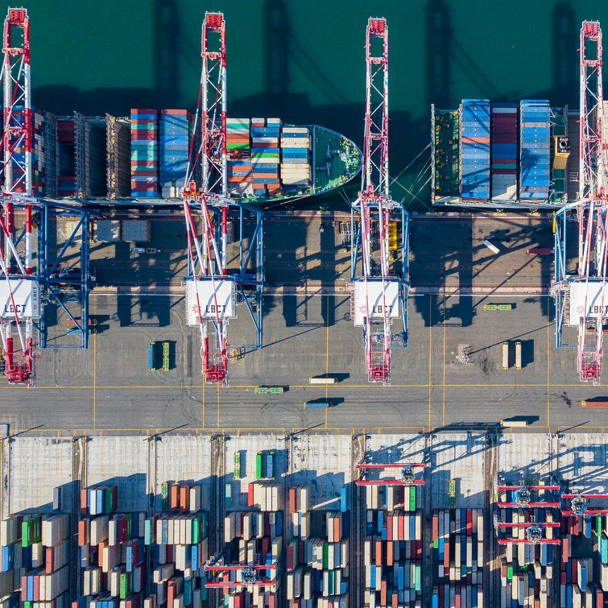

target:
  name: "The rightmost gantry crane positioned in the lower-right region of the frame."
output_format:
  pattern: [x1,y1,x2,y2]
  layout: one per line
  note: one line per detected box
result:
[553,478,608,516]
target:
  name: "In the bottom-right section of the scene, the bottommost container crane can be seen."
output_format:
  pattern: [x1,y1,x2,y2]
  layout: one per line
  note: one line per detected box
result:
[492,505,557,546]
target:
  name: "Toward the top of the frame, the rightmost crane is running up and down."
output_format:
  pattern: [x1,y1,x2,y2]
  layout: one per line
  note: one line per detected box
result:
[545,13,608,390]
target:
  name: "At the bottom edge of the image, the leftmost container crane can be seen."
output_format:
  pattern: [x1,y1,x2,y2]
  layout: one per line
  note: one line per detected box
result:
[206,546,286,589]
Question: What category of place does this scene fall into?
port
